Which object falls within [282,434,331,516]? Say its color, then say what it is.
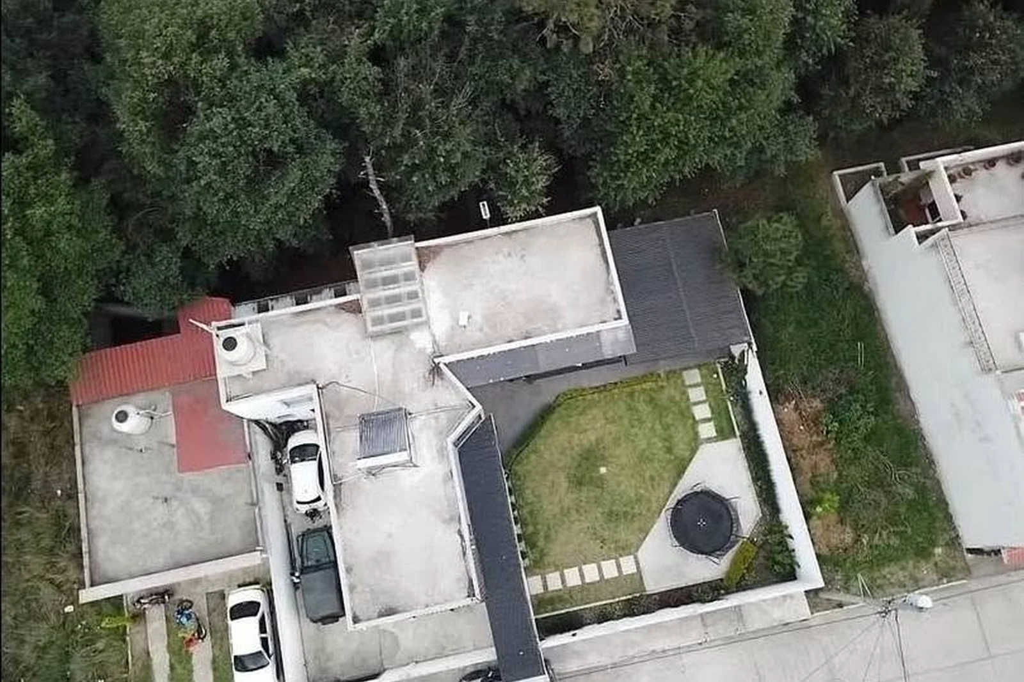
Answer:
white car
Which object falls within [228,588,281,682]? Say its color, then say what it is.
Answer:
white car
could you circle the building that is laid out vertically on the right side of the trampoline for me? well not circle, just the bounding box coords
[827,138,1024,568]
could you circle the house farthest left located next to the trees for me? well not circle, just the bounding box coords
[71,294,268,603]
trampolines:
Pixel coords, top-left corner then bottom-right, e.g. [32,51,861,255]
[667,483,748,566]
